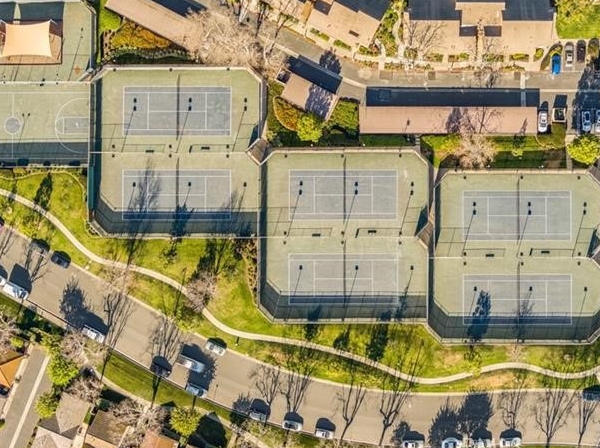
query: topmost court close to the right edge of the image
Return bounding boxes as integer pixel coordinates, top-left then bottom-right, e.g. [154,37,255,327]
[435,176,600,258]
